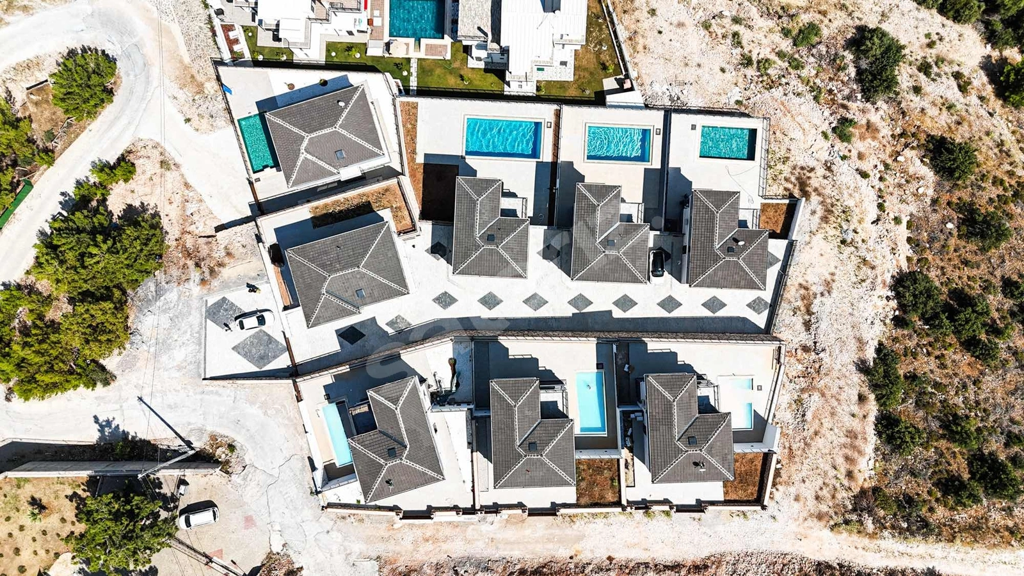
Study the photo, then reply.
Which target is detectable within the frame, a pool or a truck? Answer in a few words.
pool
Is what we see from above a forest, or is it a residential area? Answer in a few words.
residential area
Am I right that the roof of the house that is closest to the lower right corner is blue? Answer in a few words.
No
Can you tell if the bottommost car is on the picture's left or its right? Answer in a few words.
left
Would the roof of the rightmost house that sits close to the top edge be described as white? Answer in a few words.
Yes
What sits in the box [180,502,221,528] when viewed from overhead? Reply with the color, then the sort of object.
white car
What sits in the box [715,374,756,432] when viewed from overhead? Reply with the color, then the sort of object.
white swimming pool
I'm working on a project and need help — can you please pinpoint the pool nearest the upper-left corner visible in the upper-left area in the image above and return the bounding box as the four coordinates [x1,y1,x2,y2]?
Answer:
[235,110,281,176]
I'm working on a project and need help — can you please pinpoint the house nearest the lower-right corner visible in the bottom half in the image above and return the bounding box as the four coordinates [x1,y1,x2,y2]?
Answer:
[643,372,736,484]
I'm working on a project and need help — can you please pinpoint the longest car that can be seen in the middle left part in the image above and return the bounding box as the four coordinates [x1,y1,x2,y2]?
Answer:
[236,310,275,330]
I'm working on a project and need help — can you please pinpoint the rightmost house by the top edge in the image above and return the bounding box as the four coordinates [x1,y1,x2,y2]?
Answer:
[458,0,586,94]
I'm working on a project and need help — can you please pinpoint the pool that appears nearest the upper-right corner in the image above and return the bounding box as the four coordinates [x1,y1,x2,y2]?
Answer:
[695,121,761,165]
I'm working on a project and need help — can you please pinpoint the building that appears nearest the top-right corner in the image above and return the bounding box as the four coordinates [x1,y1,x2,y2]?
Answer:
[684,187,768,292]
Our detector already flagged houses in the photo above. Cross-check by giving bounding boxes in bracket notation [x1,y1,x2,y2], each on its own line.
[684,187,768,292]
[264,78,392,189]
[452,176,531,278]
[285,221,415,329]
[346,370,446,505]
[572,181,651,283]
[489,376,577,490]
[458,0,586,94]
[643,372,736,484]
[231,0,366,56]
